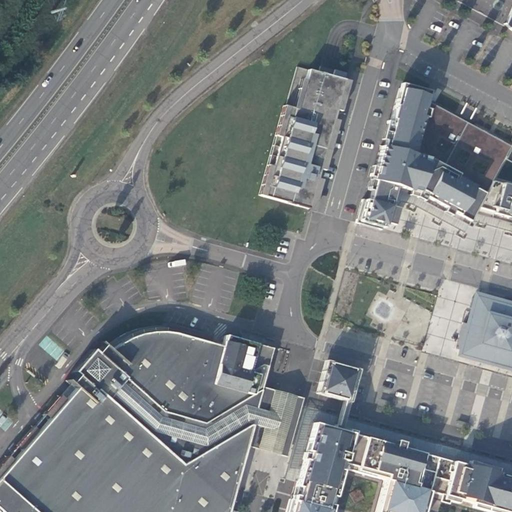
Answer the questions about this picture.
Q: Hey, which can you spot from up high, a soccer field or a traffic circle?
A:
traffic circle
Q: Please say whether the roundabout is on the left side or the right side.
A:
left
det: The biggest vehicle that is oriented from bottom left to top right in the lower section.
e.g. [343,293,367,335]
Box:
[55,350,70,367]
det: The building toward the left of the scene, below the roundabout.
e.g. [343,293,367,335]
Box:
[0,324,306,512]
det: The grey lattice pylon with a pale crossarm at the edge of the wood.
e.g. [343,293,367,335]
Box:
[52,9,68,28]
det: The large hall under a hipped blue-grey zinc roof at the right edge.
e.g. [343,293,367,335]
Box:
[460,290,512,371]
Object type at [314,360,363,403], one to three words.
building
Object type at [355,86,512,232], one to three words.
building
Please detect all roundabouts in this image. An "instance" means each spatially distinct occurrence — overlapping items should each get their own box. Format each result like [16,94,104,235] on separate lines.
[70,181,159,270]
